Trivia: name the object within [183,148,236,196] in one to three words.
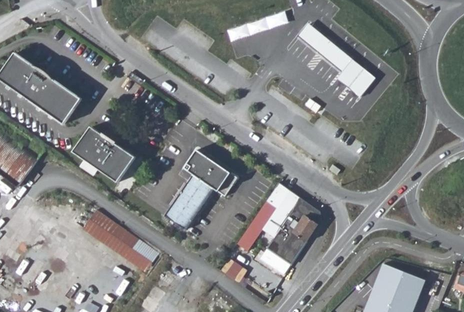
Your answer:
building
